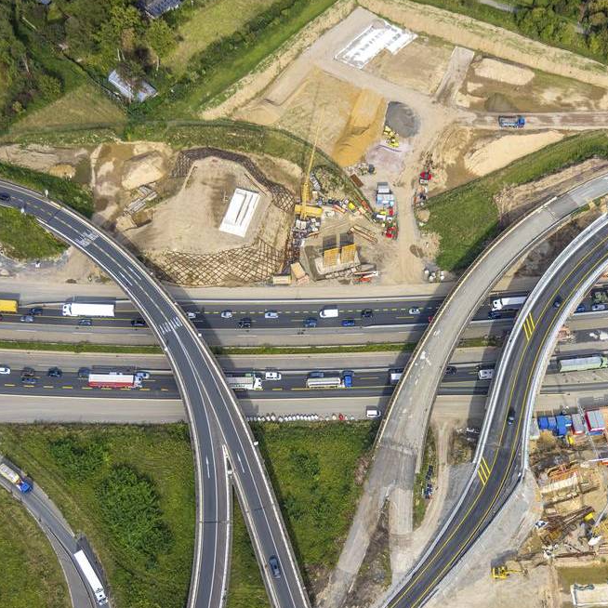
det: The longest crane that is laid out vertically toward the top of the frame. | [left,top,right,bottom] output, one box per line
[300,92,320,224]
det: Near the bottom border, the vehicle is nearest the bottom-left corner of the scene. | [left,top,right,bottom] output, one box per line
[72,548,109,608]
